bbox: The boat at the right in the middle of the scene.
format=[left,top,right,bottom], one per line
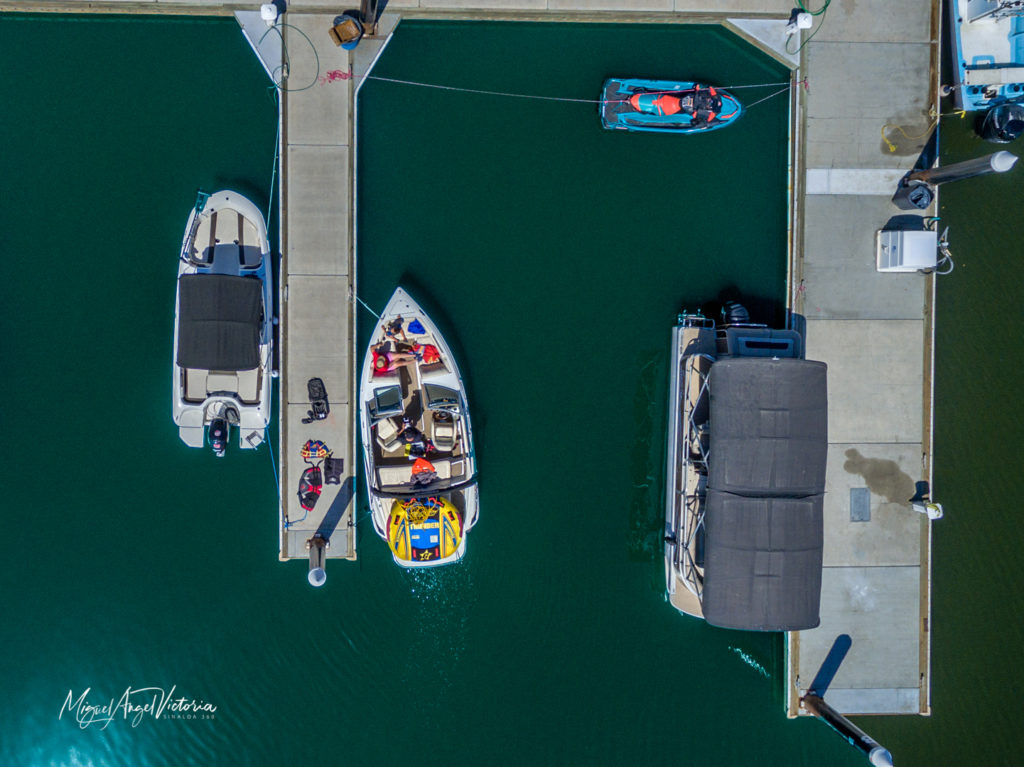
[664,298,827,632]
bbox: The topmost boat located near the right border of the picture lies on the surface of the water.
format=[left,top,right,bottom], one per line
[944,0,1024,147]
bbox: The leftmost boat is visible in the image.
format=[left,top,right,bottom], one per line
[173,189,273,456]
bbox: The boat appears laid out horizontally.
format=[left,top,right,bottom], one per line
[599,79,742,135]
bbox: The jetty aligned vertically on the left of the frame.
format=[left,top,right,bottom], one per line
[235,12,402,561]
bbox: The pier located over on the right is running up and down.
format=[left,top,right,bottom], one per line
[717,0,941,718]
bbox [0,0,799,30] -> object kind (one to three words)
pier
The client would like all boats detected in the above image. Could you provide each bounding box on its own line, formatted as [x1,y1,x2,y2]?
[173,189,273,456]
[599,79,742,135]
[664,298,827,632]
[944,0,1024,147]
[360,287,479,567]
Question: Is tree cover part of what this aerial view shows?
No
